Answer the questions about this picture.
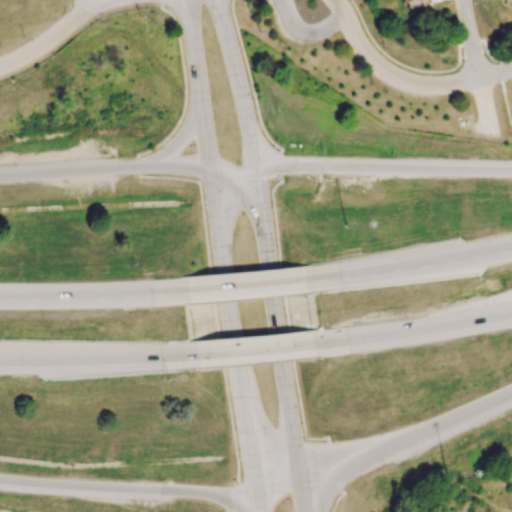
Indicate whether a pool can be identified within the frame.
No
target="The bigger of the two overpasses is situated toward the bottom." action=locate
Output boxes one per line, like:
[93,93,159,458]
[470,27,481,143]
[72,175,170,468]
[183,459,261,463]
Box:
[192,329,326,370]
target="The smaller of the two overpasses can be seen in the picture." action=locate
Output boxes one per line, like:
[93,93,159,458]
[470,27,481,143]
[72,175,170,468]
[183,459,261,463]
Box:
[187,265,317,304]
